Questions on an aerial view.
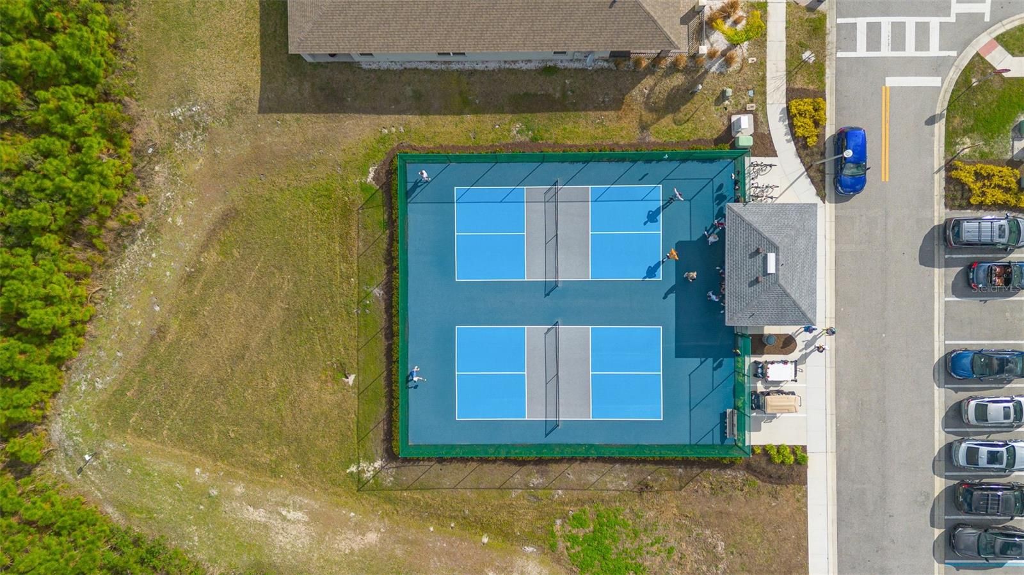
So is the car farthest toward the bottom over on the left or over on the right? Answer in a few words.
right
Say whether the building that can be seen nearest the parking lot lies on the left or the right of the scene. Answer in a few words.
right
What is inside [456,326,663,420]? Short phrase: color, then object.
blue sports court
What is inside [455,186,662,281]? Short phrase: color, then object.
blue sports court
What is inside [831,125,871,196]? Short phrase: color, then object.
blue car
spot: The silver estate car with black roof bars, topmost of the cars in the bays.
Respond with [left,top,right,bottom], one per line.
[940,213,1024,251]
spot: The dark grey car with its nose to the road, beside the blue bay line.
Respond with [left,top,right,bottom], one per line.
[948,524,1024,564]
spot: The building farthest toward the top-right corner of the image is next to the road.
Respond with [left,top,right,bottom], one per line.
[721,203,818,326]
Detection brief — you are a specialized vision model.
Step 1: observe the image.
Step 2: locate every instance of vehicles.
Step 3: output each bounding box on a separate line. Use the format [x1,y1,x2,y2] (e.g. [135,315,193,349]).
[831,125,871,196]
[951,481,1024,520]
[756,360,801,383]
[940,213,1024,251]
[949,438,1024,475]
[959,394,1024,430]
[948,524,1024,564]
[754,390,803,413]
[964,259,1024,295]
[945,347,1024,383]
